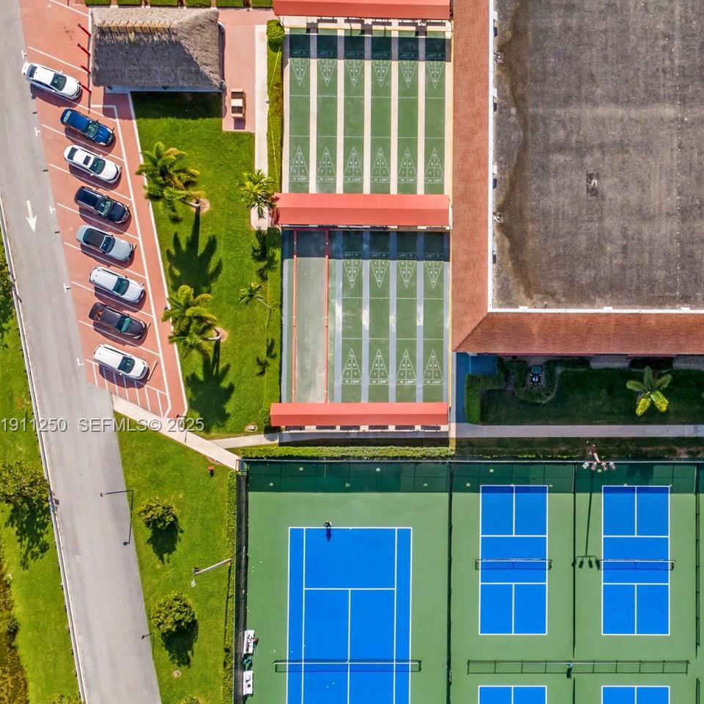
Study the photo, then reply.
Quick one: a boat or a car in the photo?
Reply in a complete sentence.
It is a car that can be seen here.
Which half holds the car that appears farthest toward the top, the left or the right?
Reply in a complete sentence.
The car that appears farthest toward the top sits on the left side.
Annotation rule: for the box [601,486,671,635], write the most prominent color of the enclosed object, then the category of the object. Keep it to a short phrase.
blue sports court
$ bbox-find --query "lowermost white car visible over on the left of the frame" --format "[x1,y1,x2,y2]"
[89,342,152,383]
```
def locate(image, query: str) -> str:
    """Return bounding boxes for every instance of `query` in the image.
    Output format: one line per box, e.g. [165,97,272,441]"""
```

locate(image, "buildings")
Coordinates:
[451,0,704,356]
[92,8,229,94]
